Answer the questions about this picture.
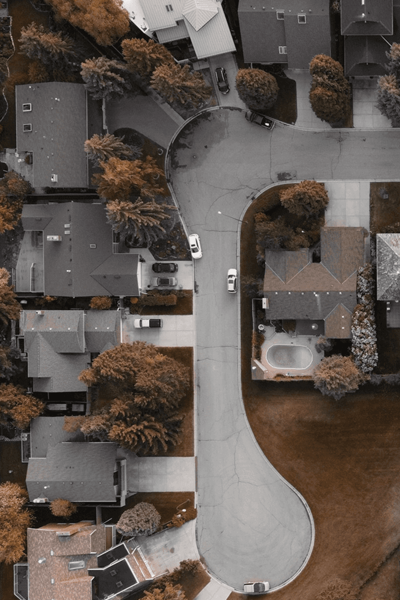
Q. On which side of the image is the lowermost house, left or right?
left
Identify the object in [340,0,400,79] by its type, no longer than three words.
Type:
house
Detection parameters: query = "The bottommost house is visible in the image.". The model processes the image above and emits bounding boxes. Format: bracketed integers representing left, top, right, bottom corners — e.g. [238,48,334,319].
[28,521,159,600]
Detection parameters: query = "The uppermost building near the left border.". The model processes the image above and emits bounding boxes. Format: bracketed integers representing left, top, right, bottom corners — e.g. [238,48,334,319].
[15,81,96,192]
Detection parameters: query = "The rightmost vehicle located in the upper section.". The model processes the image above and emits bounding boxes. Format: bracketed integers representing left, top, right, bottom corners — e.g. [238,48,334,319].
[244,108,277,132]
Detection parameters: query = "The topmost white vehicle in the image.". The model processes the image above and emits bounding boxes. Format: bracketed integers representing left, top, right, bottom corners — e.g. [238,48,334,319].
[188,233,205,260]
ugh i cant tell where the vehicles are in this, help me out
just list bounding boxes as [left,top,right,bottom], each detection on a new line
[225,268,240,294]
[152,275,179,288]
[244,108,277,132]
[243,582,271,594]
[152,261,179,273]
[214,67,231,95]
[188,233,205,260]
[135,317,165,329]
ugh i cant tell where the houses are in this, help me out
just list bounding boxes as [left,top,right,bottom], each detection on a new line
[15,81,96,192]
[238,0,332,73]
[16,201,146,296]
[340,0,400,79]
[14,310,128,392]
[28,521,159,600]
[121,0,242,63]
[26,417,134,504]
[376,233,400,301]
[258,225,365,339]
